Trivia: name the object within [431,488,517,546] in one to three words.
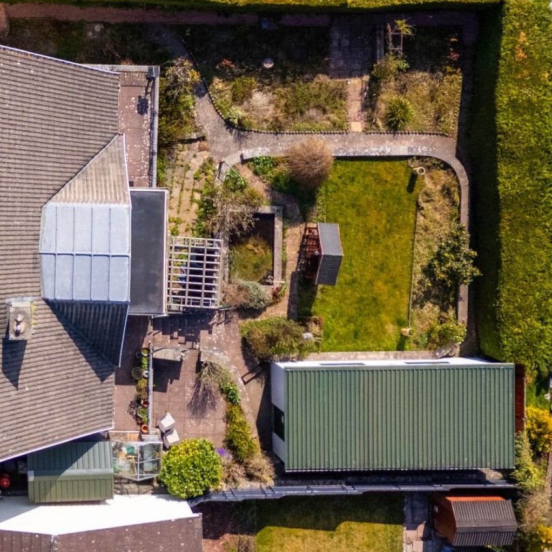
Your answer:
shed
